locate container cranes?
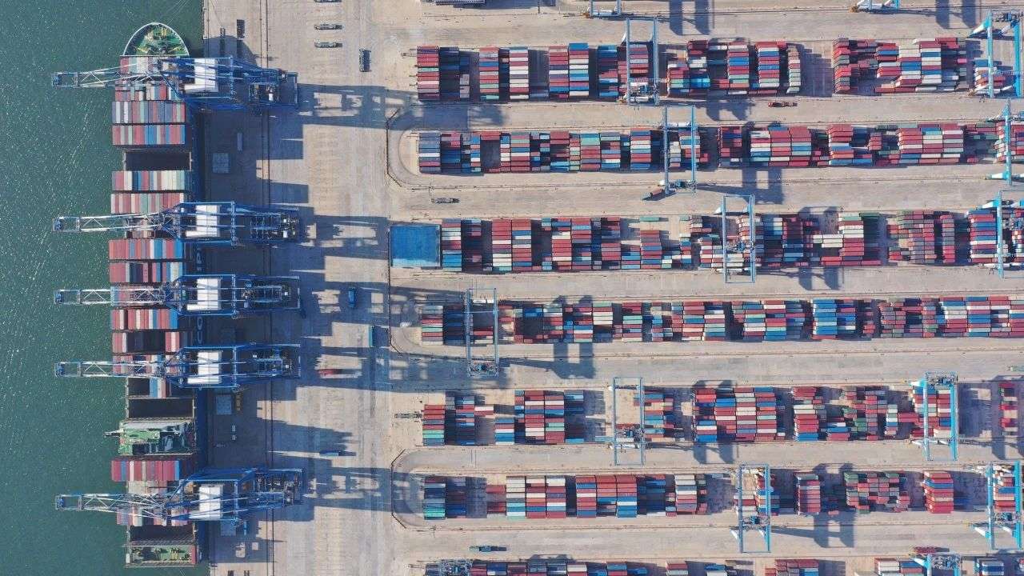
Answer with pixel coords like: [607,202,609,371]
[52,199,300,254]
[655,105,697,193]
[726,463,771,552]
[54,335,302,390]
[975,192,1024,279]
[966,7,1022,100]
[584,0,622,16]
[55,455,304,523]
[711,195,755,283]
[53,269,301,320]
[606,377,646,465]
[966,460,1022,549]
[465,289,502,376]
[984,99,1024,187]
[438,555,473,576]
[618,17,659,106]
[51,54,298,123]
[905,370,958,461]
[917,550,961,576]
